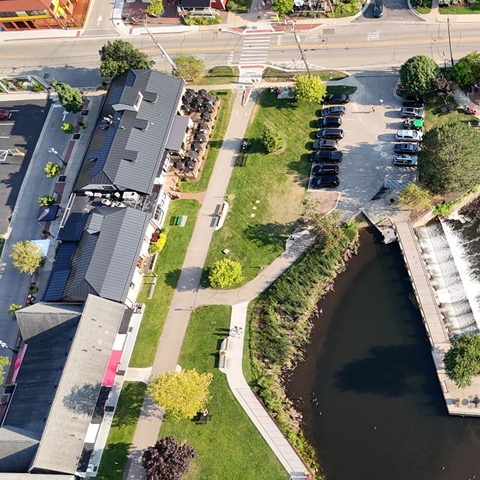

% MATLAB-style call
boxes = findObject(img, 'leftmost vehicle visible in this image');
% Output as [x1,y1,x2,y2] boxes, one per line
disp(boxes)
[0,108,13,121]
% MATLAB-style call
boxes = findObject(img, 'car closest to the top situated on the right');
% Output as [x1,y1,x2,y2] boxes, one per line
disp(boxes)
[370,0,383,16]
